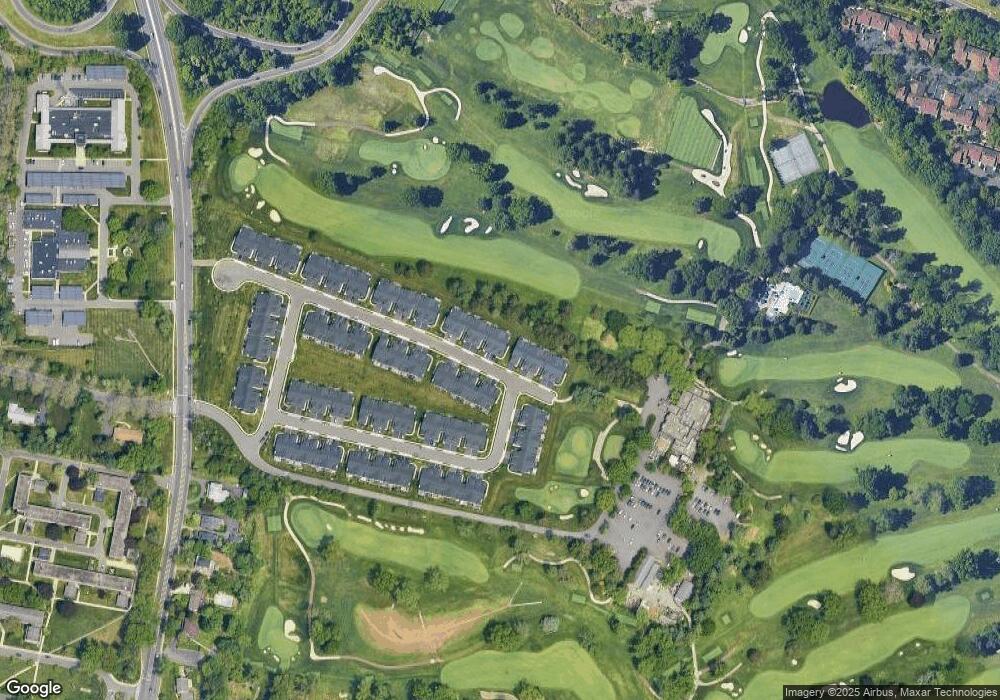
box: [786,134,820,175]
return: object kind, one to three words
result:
tennis court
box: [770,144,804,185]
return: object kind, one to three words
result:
tennis court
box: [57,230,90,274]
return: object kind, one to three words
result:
building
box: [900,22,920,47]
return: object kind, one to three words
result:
house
